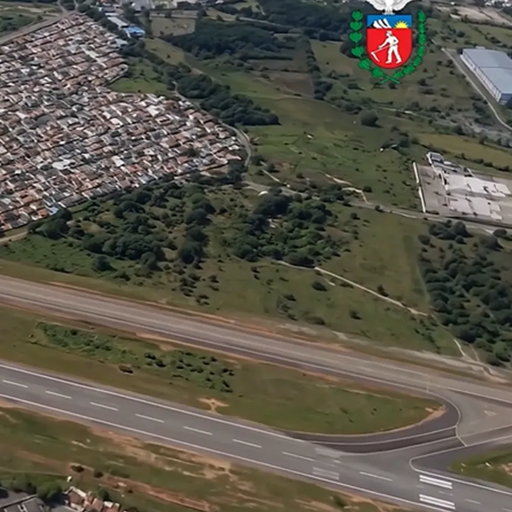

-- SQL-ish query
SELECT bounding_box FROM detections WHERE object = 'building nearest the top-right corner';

[460,49,512,102]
